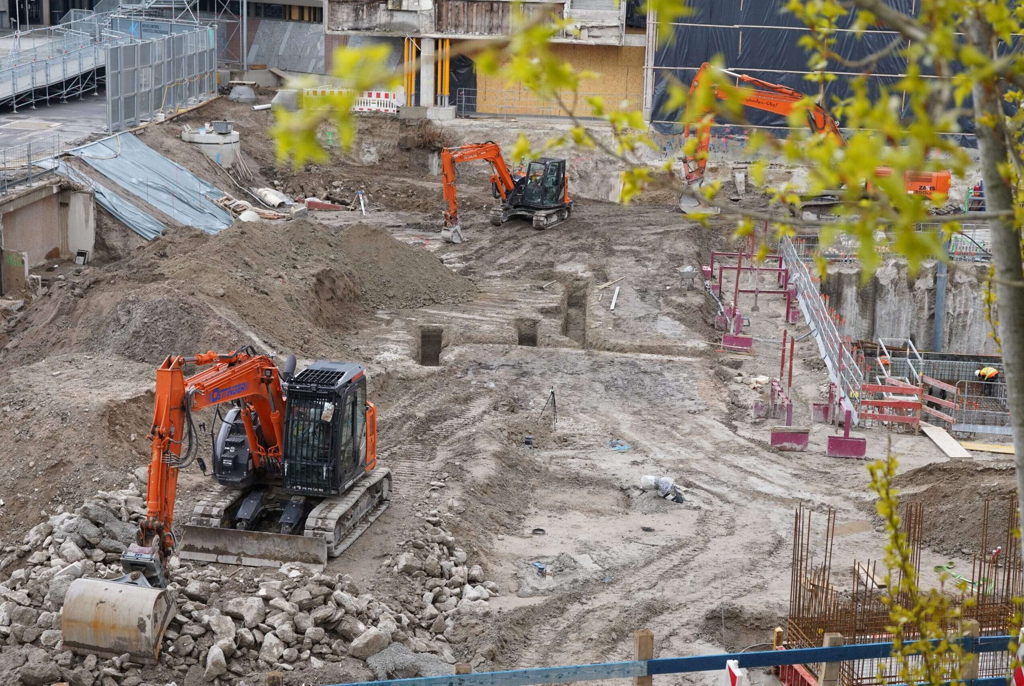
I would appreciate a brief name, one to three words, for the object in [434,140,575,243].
work vehicle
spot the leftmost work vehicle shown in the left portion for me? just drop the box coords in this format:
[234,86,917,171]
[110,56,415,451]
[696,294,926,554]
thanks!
[60,344,390,670]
